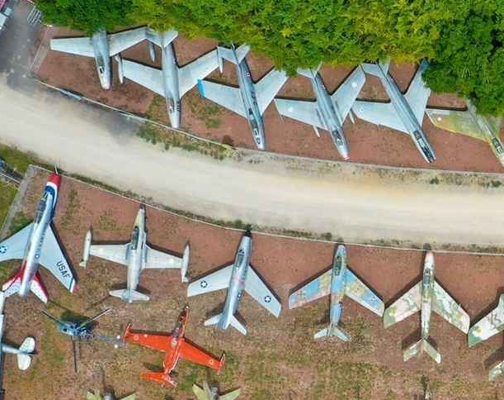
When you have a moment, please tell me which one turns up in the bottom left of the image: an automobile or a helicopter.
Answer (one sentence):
What appears in the bottom left of the image is a helicopter.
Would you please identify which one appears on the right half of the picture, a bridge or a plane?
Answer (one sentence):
Looking on the right half of the picture, you will find a plane.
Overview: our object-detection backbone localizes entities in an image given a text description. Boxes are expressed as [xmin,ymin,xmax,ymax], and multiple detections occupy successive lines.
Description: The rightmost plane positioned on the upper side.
[429,106,504,166]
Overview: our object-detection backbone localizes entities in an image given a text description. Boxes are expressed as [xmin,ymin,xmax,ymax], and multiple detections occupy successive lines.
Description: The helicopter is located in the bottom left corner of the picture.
[43,309,122,372]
